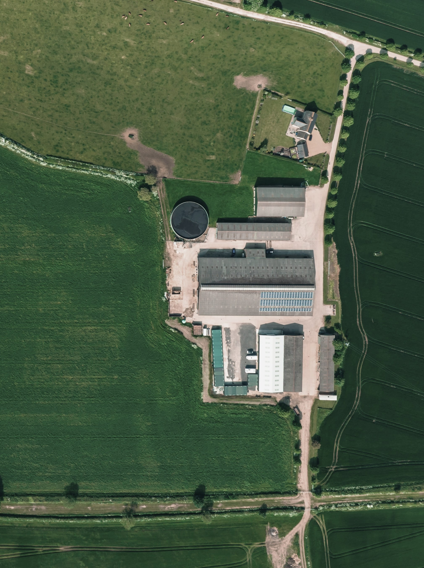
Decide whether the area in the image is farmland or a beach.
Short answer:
farmland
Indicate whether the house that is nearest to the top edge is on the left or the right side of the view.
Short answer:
right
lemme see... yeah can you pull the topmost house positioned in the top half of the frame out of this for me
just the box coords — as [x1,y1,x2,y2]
[292,111,317,140]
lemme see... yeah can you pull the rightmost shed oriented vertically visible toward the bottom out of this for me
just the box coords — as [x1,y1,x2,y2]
[317,335,335,392]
